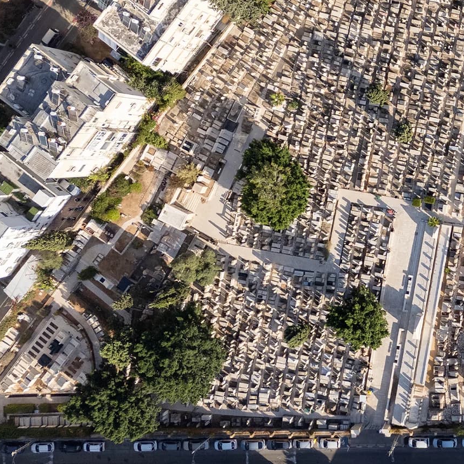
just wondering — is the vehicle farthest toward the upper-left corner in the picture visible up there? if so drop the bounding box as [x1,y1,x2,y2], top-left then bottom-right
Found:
[36,26,61,50]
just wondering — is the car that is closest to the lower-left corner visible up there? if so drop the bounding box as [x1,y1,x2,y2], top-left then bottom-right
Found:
[0,442,26,455]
